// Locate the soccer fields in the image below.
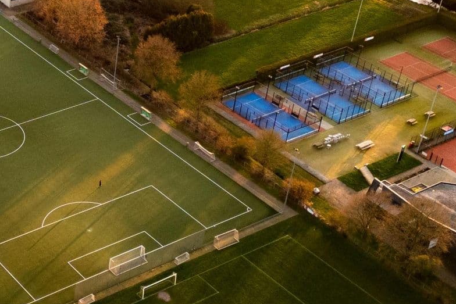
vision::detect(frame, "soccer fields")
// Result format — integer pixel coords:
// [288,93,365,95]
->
[0,12,279,304]
[121,229,391,304]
